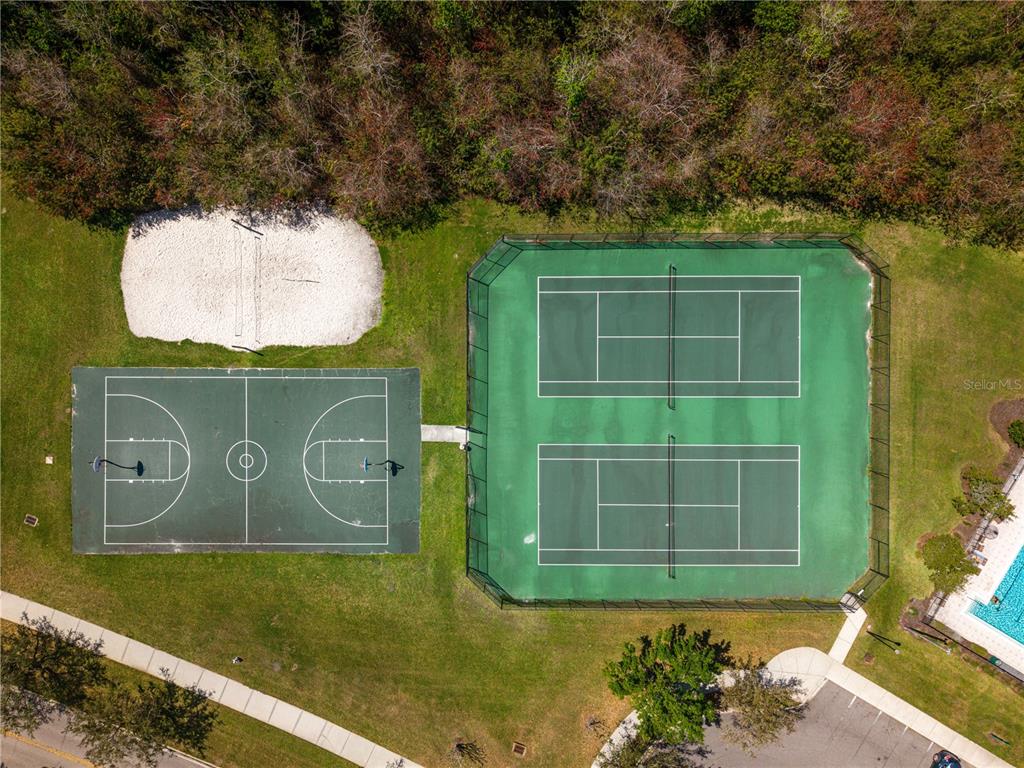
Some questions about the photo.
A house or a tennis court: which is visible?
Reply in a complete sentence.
Visible in the photo is a tennis court.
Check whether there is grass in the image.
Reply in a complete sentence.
Yes, some grass is visible.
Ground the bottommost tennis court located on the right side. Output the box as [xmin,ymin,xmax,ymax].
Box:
[538,444,801,575]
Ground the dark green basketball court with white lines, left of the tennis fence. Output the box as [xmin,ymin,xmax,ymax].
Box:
[72,367,420,554]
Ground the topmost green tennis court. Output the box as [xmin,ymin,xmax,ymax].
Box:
[538,276,801,398]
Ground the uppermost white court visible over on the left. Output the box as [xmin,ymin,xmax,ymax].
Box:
[121,200,384,352]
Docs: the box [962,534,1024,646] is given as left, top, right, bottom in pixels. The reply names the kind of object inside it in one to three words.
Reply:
swimming pool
